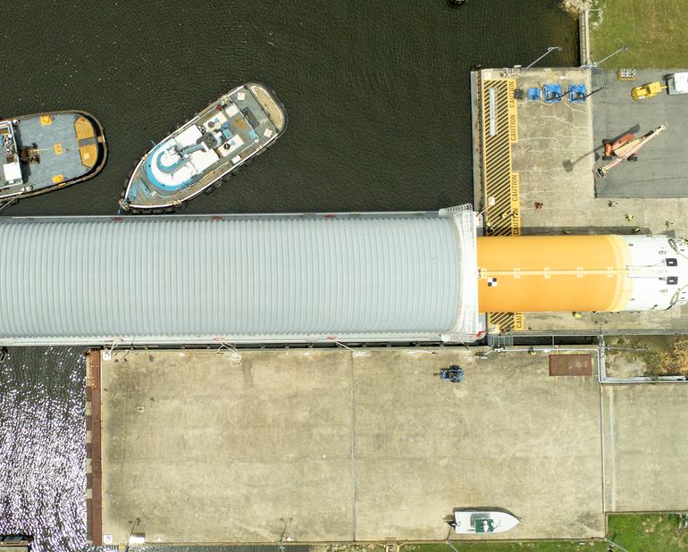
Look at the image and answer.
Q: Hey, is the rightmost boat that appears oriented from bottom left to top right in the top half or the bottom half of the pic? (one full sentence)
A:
The top half of the photo is where the rightmost boat that appears oriented from bottom left to top right is.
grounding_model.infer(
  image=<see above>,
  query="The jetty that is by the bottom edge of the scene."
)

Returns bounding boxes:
[86,341,605,545]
